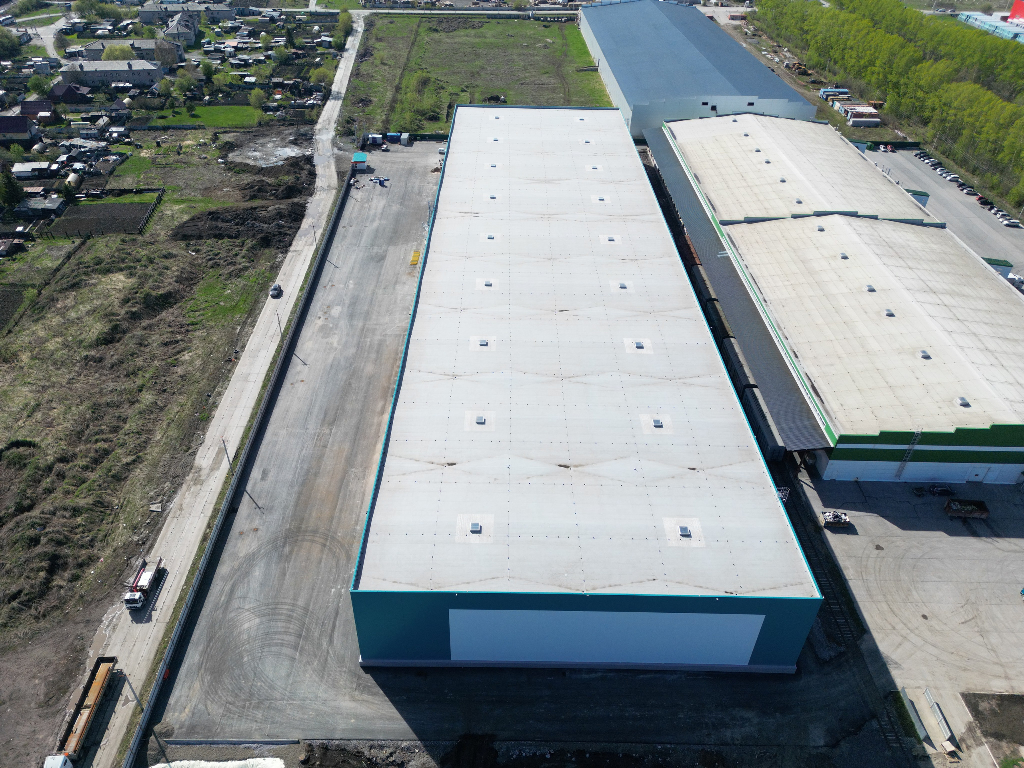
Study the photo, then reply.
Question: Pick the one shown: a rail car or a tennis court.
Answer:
rail car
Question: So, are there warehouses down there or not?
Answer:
Yes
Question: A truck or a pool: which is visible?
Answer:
truck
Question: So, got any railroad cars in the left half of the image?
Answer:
No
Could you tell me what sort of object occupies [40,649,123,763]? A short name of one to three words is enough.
trailer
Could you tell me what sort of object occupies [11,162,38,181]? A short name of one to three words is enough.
shed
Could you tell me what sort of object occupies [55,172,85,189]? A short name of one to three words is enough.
greenhouse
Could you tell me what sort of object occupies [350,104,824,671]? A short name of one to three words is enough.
warehouse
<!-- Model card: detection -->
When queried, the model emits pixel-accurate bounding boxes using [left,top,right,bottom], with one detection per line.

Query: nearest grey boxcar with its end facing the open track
[738,387,785,464]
